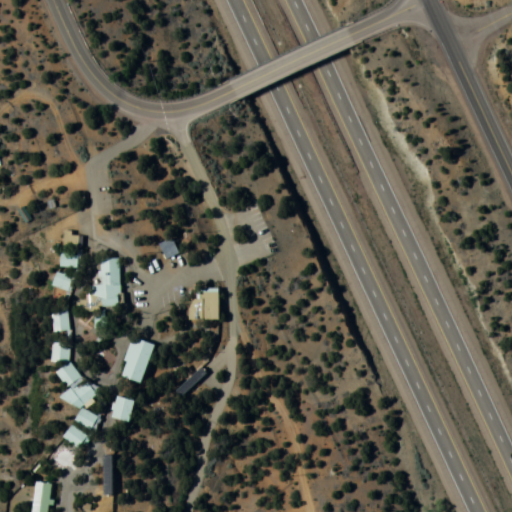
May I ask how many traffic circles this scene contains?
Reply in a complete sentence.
The picture shows no traffic circles.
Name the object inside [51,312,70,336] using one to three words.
building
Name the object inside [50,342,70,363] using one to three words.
building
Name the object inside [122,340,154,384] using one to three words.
house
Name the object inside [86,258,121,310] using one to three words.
house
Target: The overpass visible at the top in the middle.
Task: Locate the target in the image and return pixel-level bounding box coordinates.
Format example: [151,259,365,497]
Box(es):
[229,24,358,98]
